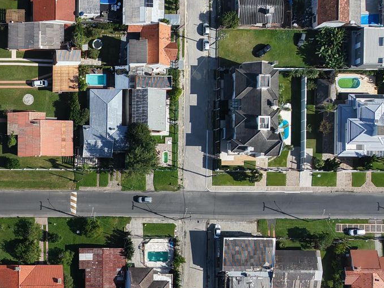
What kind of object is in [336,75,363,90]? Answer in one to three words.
swimming pool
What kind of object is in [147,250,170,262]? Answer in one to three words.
swimming pool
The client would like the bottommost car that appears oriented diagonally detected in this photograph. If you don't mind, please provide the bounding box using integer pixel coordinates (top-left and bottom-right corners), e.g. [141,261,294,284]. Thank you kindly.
[255,45,272,57]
